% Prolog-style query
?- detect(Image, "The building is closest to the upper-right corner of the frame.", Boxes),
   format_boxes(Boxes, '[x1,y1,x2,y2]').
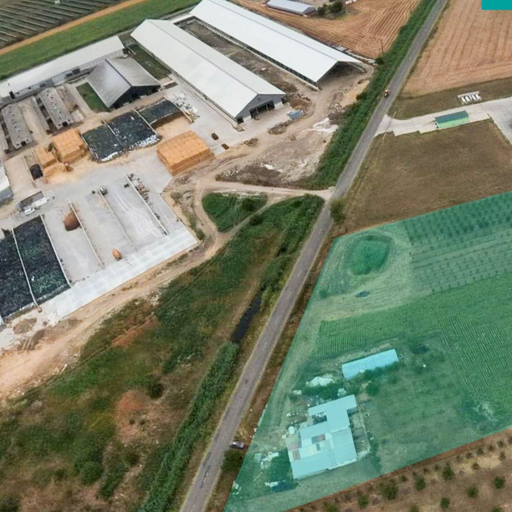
[432,112,468,129]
